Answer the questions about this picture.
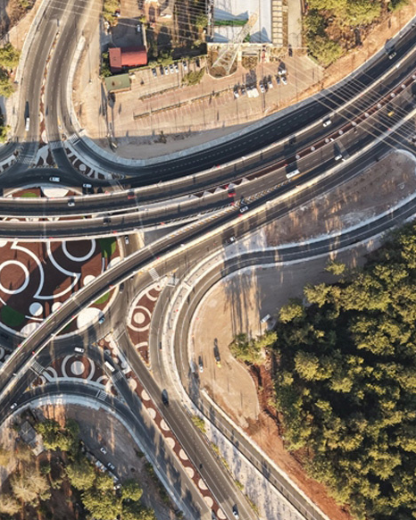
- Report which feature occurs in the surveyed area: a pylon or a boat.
pylon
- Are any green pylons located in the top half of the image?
No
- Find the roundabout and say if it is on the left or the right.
left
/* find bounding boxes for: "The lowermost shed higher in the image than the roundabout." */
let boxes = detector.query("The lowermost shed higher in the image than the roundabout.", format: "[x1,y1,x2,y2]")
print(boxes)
[104,73,130,93]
